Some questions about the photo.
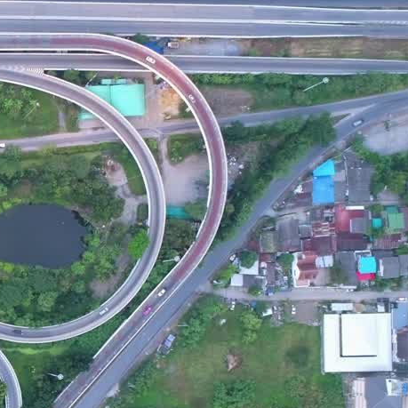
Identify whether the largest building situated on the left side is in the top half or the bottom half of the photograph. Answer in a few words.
top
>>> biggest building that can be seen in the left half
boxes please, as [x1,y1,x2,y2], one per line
[84,84,145,117]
